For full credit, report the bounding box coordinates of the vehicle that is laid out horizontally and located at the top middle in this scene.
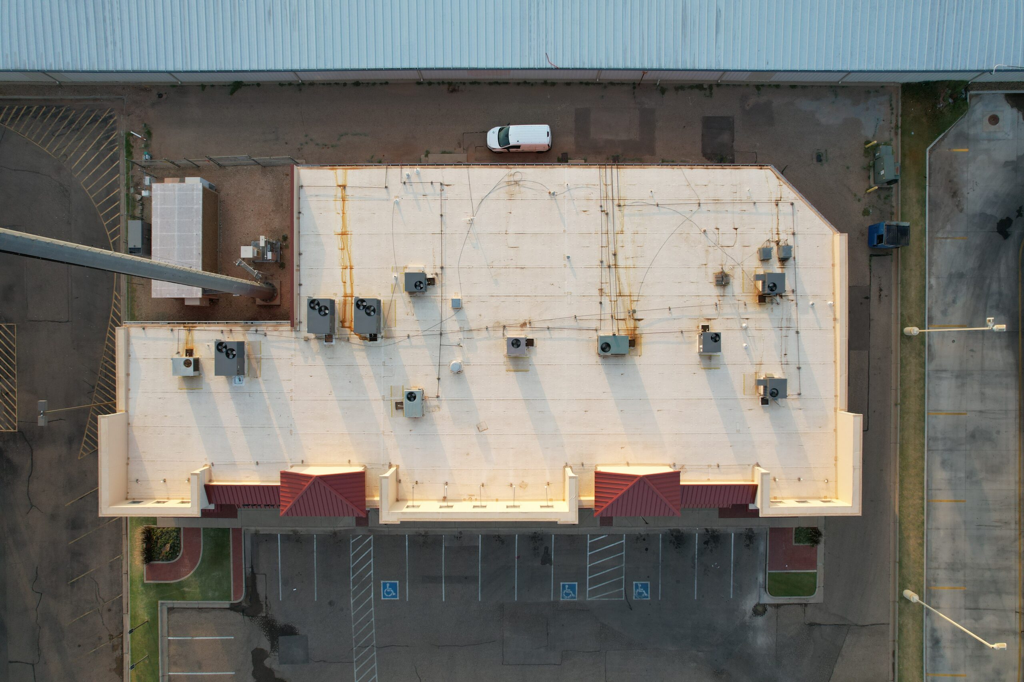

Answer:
[487,124,553,154]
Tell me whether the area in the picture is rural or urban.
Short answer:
urban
